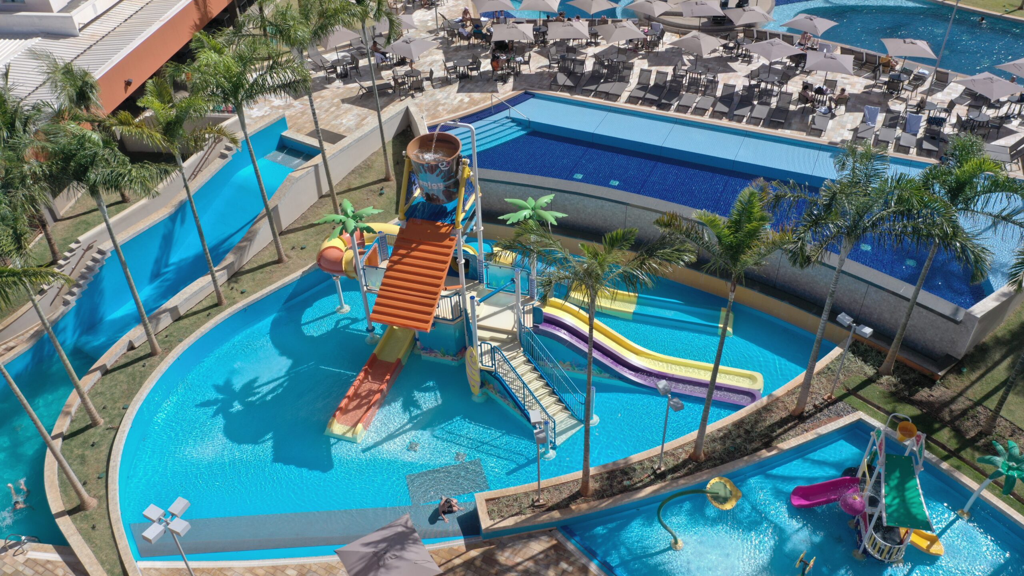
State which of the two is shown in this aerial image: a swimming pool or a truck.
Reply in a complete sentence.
The one in the frame is a swimming pool.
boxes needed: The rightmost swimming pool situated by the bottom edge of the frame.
[557,429,1024,576]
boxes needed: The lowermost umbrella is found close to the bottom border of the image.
[328,511,463,576]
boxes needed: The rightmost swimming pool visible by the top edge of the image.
[771,0,1024,85]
